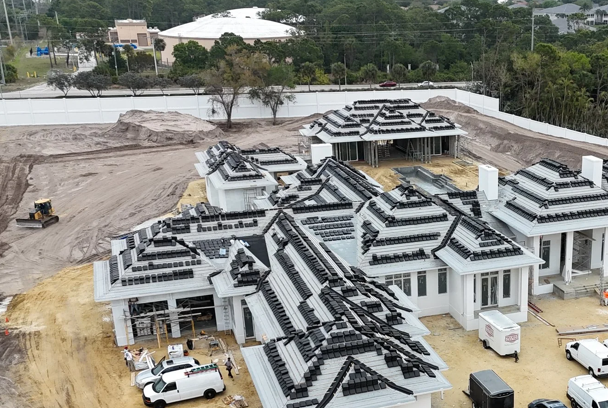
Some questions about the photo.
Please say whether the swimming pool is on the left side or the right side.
right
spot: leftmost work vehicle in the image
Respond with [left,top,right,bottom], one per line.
[18,198,60,230]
